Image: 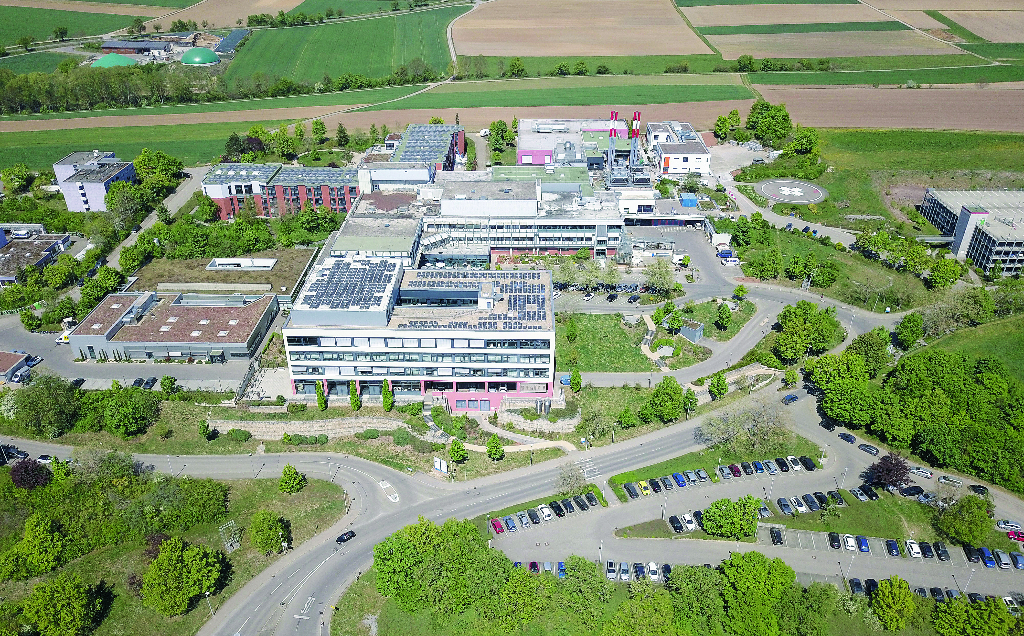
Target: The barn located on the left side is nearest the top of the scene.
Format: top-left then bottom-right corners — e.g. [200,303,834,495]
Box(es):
[100,37,187,58]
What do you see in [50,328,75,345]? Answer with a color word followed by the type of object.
white vehicle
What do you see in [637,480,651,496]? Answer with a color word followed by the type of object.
yellow car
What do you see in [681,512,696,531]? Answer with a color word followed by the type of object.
white car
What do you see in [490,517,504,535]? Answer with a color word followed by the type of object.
red car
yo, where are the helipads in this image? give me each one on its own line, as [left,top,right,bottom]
[753,177,830,206]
